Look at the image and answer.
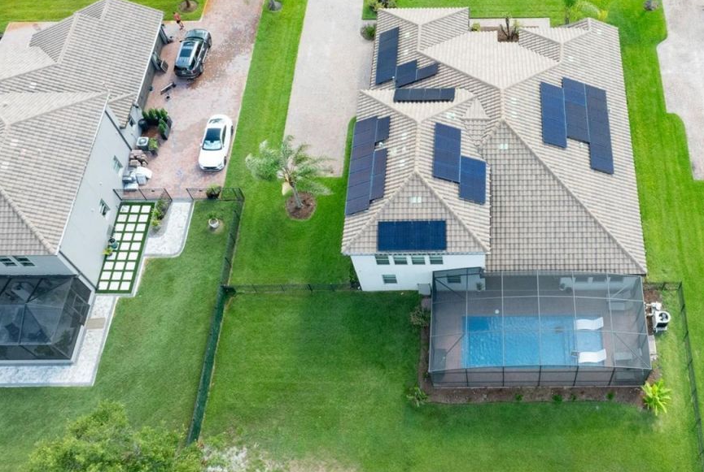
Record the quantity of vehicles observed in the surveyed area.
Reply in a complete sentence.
There are 2 vehicles in the image.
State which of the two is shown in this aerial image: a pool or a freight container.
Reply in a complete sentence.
The image shows a pool.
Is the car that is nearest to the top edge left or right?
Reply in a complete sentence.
The car that is nearest to the top edge appears in the left half of the scene.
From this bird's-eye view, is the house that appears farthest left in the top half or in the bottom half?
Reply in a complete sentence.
The house that appears farthest left is in the top half of the image.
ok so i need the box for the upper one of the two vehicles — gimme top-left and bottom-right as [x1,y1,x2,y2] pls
[172,26,210,76]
